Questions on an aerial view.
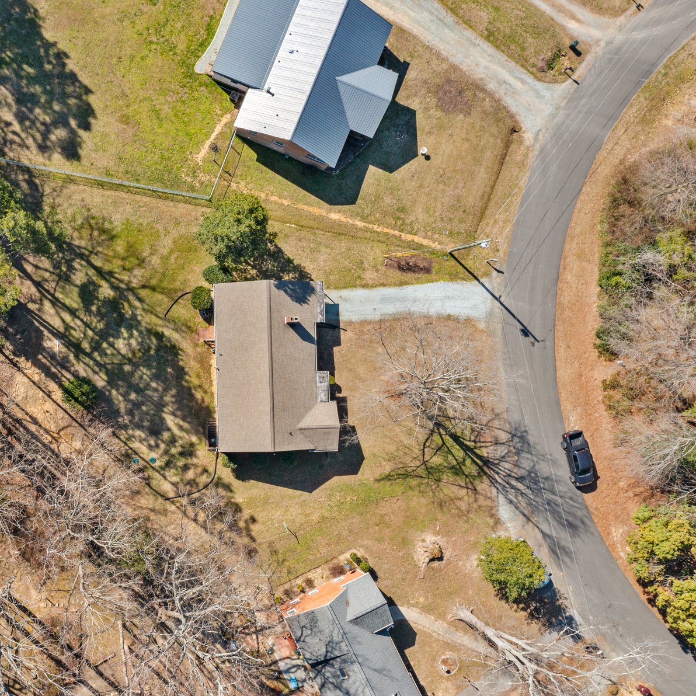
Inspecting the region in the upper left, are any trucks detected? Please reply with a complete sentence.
No, in the upper left there is no truck.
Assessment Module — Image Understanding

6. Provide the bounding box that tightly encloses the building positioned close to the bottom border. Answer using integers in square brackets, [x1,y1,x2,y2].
[281,571,423,696]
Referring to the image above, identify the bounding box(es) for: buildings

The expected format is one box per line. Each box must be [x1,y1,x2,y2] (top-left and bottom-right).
[213,280,340,453]
[213,0,398,181]
[281,571,423,696]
